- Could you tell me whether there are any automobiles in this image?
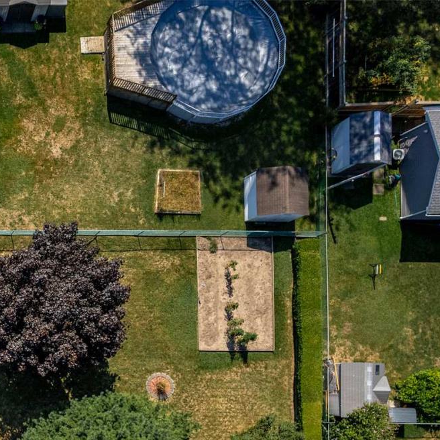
No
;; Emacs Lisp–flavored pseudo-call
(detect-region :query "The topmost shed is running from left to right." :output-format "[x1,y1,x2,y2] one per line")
[0,0,68,31]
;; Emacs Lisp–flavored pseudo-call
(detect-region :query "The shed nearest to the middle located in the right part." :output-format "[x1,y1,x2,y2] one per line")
[242,164,310,222]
